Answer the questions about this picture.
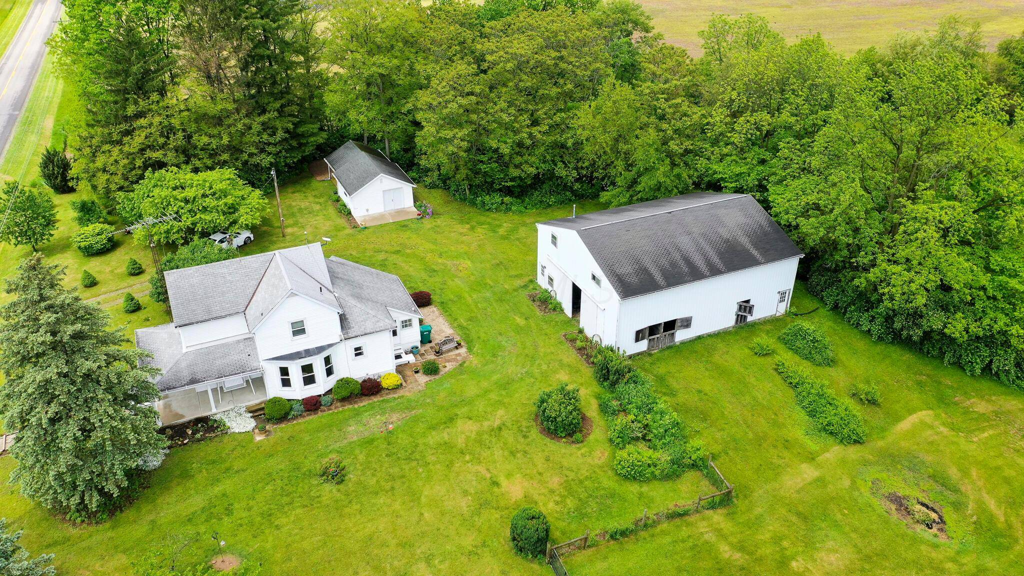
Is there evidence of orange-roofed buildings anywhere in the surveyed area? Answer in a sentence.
No, the photo shows no orange-roofed building.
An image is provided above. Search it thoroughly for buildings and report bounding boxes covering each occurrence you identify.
[323,140,417,216]
[535,190,808,356]
[134,242,425,430]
